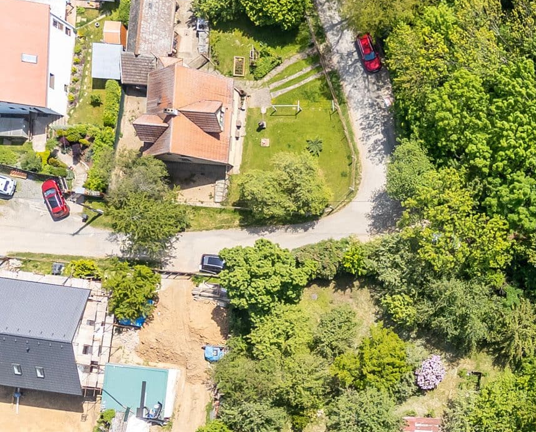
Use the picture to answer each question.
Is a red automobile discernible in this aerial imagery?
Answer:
Yes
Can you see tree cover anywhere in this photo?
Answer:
Yes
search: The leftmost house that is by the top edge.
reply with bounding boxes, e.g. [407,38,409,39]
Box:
[0,0,77,114]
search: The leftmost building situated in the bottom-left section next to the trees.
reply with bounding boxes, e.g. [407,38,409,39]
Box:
[0,277,107,398]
